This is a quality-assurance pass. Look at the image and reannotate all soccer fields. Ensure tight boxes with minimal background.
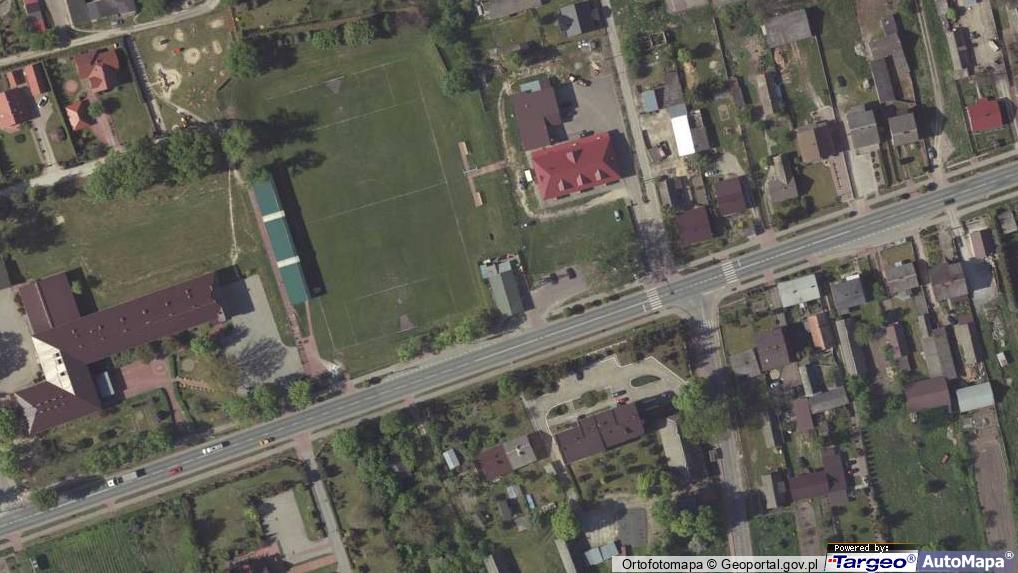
[265,58,481,350]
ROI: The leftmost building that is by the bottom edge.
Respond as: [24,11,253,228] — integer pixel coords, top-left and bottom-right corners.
[222,542,279,573]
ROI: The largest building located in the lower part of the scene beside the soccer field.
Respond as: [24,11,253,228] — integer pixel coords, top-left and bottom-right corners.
[15,271,224,433]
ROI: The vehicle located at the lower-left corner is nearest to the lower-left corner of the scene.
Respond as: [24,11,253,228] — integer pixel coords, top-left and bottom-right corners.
[107,472,136,485]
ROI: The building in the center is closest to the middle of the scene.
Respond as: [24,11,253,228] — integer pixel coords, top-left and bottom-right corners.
[477,261,523,314]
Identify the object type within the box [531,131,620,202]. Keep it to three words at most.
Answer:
building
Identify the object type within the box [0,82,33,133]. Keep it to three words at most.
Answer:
house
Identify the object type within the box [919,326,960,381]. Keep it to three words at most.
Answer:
barn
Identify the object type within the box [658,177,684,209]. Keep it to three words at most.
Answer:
shed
